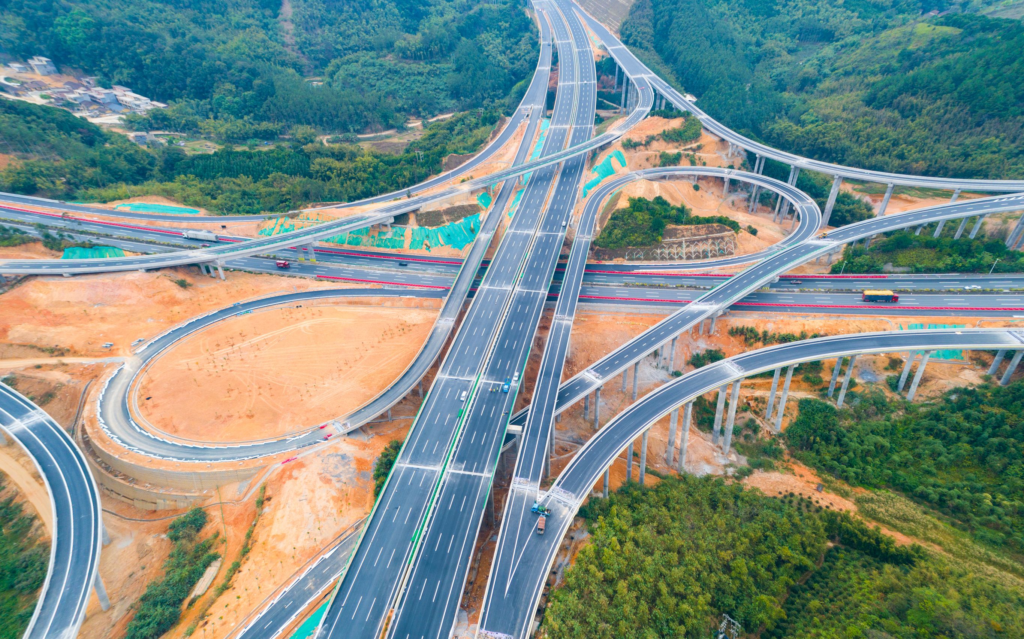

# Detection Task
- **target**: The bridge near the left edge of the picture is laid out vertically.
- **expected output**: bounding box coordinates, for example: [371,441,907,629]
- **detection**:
[0,382,119,639]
